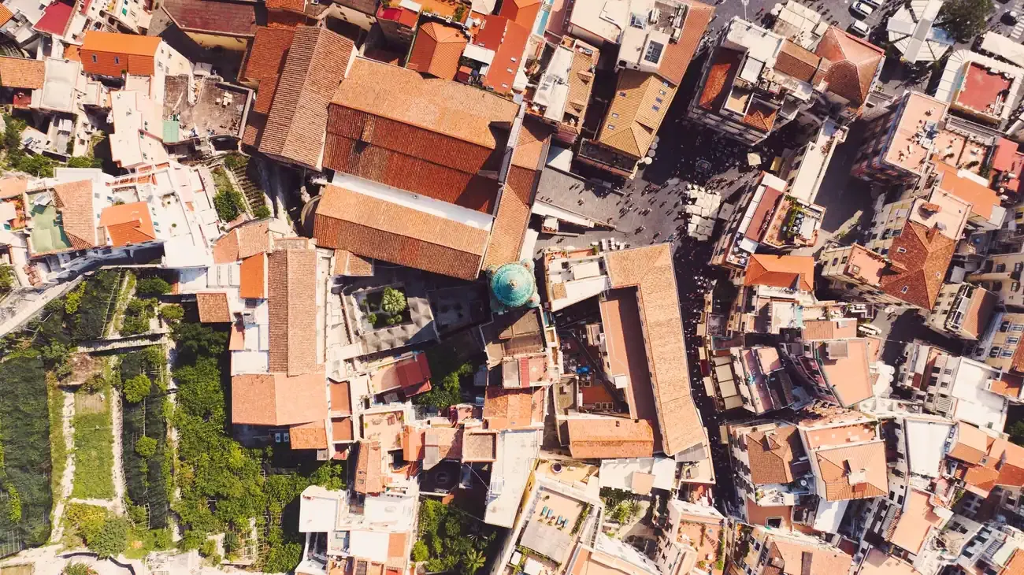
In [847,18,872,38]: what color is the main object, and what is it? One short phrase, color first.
white car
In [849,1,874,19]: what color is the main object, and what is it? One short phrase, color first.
white car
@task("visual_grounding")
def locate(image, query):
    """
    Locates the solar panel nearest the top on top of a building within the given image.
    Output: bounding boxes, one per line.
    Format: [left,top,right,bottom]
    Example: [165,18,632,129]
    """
[647,40,663,62]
